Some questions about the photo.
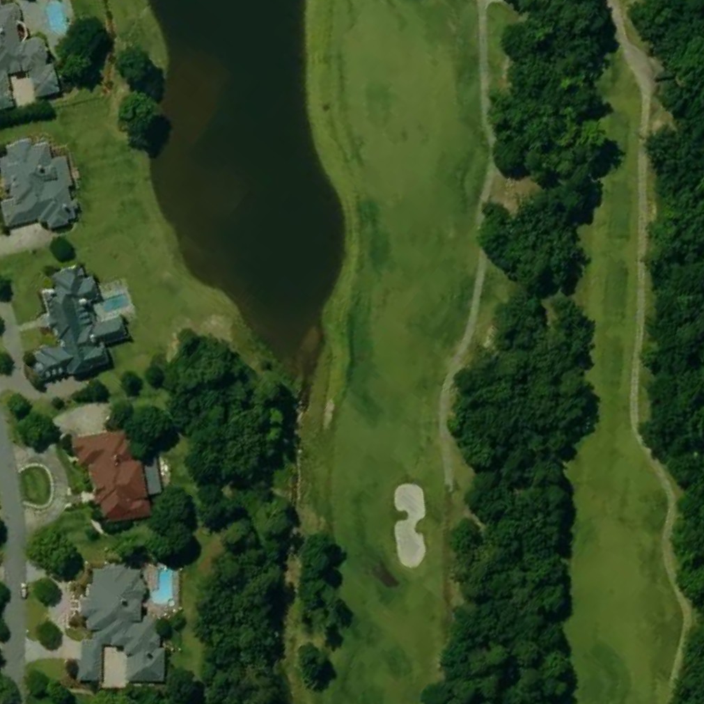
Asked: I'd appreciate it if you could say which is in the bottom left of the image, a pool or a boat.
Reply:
pool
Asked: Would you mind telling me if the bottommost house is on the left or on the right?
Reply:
left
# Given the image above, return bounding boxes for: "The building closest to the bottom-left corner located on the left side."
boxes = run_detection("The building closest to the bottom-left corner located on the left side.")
[77,564,164,683]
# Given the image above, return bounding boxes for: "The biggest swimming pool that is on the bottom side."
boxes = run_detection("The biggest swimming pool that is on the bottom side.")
[151,568,175,607]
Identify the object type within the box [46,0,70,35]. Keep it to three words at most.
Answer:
swimming pool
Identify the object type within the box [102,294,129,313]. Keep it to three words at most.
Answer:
swimming pool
